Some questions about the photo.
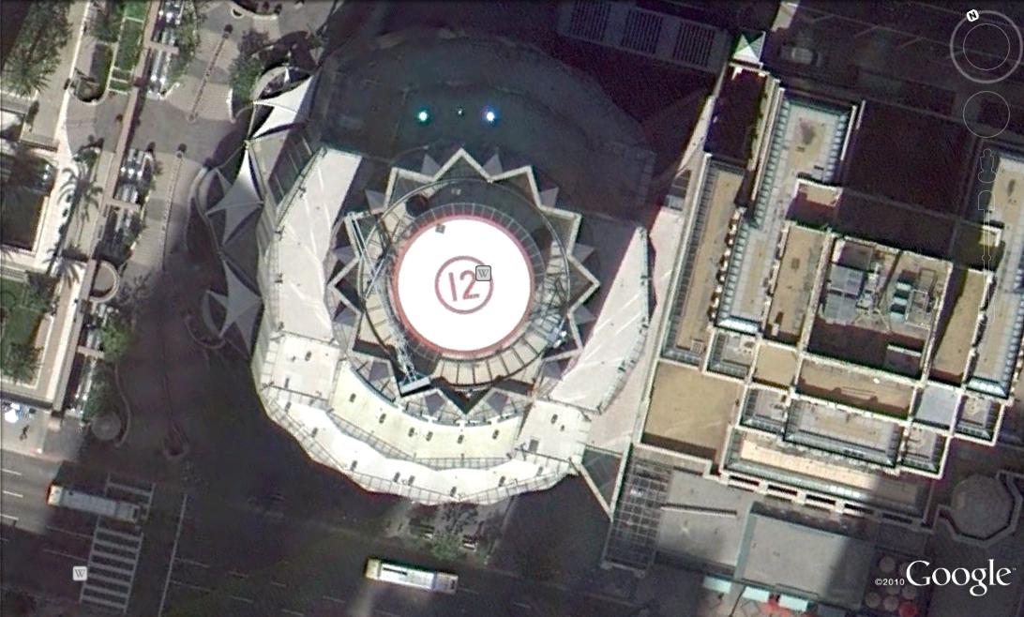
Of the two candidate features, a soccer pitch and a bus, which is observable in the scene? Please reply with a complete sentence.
The one in the frame is a bus.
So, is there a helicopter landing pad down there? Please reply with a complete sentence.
Yes, the frame does contain a helicopter landing pad.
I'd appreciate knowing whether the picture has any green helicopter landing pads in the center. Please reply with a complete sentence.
No, in the center there is no green helicopter landing pad.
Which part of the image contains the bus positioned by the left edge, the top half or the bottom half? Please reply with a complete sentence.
It is in the bottom half that the bus positioned by the left edge appears.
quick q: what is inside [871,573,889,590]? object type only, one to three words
umbrella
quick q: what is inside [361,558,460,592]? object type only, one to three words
bus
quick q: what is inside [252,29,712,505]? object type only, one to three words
building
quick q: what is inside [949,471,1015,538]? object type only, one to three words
building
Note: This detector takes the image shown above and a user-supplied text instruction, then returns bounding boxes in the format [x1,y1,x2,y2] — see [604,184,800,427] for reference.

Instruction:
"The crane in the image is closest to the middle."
[532,251,571,343]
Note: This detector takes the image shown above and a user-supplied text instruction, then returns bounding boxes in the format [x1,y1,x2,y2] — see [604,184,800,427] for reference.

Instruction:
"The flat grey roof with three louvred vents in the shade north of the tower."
[558,0,728,73]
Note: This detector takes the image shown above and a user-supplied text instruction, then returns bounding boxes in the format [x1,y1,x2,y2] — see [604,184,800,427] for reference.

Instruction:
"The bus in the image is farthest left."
[48,481,146,521]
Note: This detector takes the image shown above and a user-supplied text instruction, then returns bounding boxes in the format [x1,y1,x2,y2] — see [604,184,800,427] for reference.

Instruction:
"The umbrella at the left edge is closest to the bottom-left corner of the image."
[2,403,21,422]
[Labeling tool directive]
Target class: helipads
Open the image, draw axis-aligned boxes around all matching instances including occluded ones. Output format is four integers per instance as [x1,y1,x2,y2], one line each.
[378,197,553,372]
